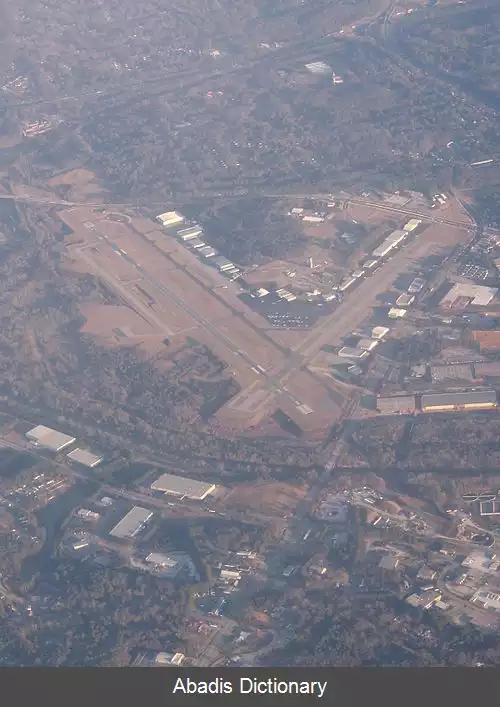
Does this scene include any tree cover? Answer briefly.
Yes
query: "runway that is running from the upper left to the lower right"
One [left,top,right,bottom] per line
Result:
[95,230,309,409]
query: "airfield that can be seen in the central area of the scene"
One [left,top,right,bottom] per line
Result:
[57,206,474,438]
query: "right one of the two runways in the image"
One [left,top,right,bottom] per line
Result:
[244,237,441,407]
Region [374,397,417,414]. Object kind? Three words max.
building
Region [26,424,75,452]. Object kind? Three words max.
building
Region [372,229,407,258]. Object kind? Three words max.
hangar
